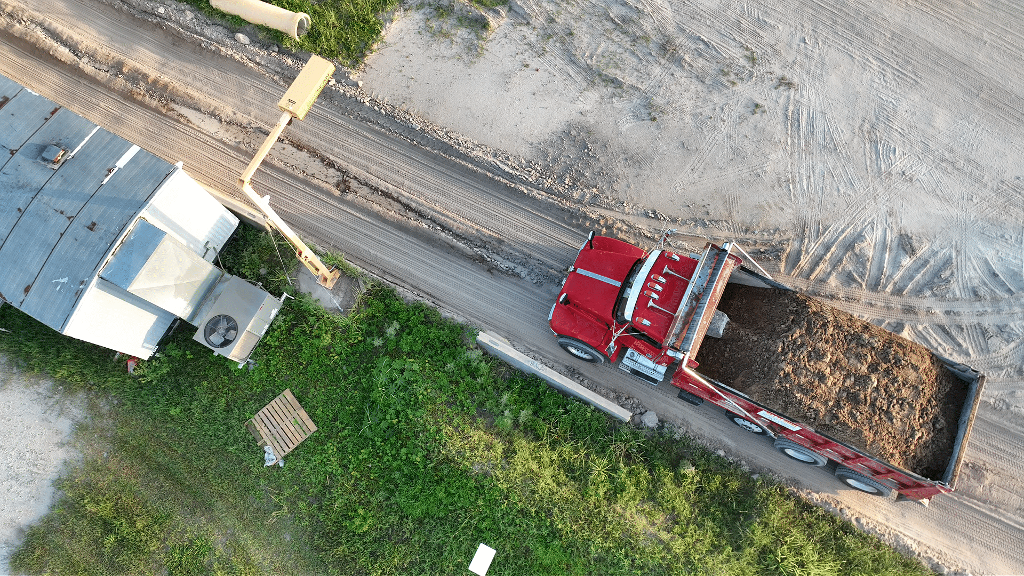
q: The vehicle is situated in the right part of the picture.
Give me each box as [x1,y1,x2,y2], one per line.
[551,213,992,499]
